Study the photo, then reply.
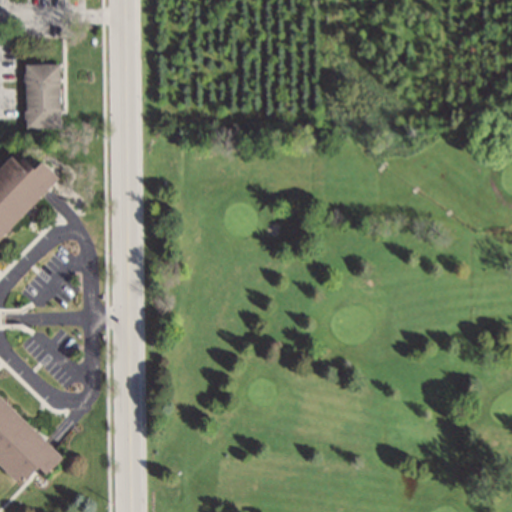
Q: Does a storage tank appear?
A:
No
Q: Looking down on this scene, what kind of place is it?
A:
golf course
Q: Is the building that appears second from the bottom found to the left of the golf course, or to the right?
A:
to the left of it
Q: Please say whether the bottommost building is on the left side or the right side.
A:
left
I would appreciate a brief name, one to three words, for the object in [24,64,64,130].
building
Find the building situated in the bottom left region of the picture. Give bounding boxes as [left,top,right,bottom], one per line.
[0,397,63,479]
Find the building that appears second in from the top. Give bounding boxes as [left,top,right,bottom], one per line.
[0,162,59,236]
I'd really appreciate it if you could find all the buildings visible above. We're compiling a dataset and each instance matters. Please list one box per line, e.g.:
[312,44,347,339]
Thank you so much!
[0,397,63,479]
[24,64,64,130]
[0,162,59,236]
